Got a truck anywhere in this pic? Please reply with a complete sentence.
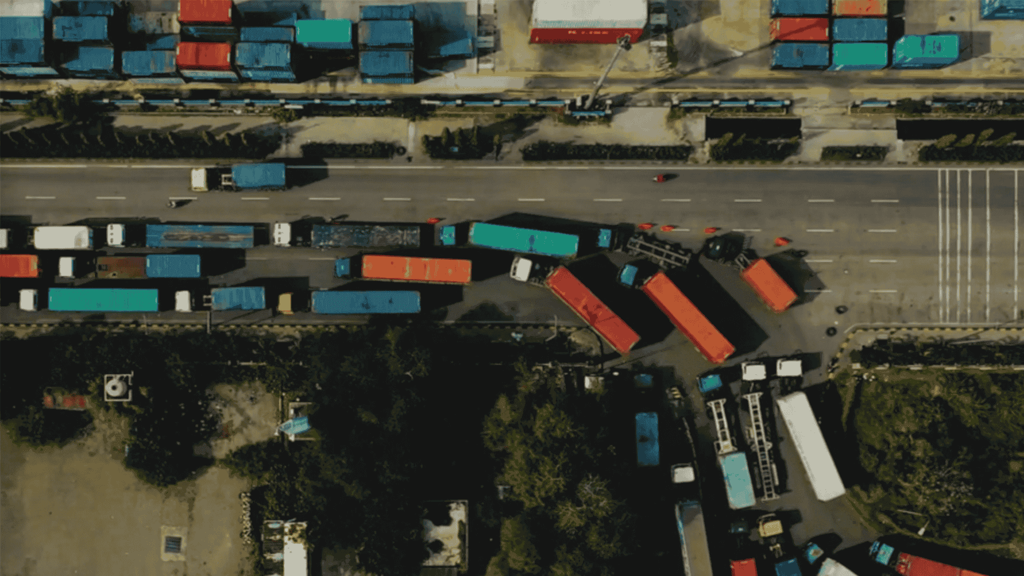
Yes, looking at the shot, I can spot a truck.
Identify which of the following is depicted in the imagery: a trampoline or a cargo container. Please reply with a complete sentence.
The one in the frame is a cargo container.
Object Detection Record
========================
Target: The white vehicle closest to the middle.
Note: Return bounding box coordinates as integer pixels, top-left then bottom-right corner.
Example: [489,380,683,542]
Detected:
[506,255,622,356]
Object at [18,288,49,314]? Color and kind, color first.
white truck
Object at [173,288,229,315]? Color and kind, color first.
white truck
